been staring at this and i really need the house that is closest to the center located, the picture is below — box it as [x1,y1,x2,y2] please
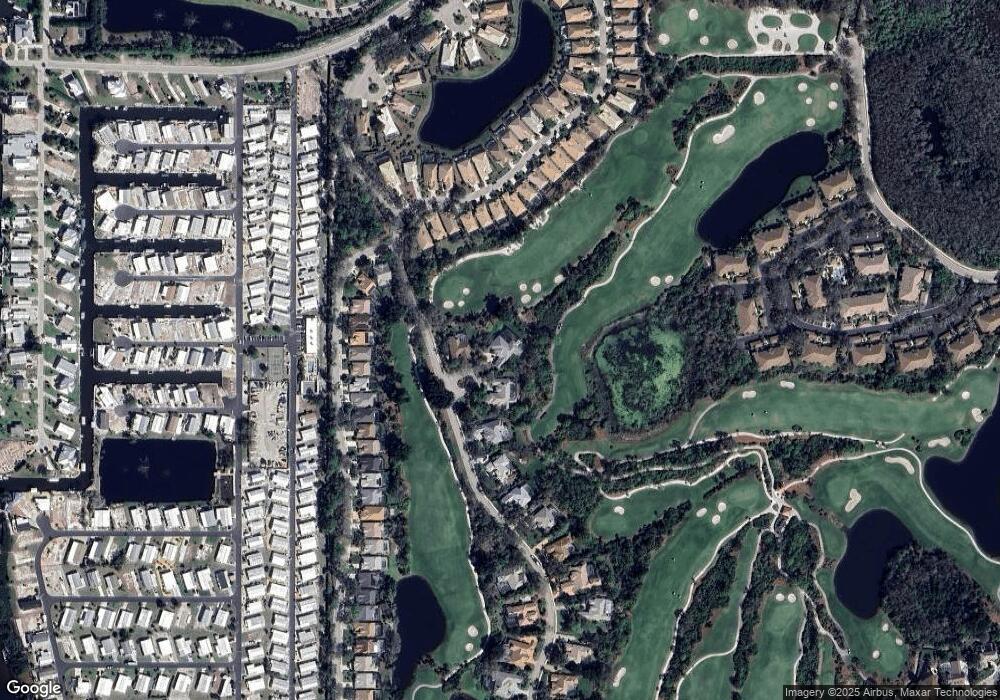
[485,334,521,370]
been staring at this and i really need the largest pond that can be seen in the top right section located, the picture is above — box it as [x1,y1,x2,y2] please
[697,131,828,249]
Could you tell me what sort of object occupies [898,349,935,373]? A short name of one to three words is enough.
building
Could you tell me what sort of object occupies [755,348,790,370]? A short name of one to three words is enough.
building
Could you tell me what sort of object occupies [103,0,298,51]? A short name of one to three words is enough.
pond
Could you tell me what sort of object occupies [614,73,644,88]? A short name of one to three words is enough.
house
